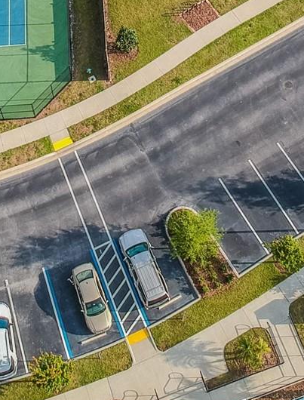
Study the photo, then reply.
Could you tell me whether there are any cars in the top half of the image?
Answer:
No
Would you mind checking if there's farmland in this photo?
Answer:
No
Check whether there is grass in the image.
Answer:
Yes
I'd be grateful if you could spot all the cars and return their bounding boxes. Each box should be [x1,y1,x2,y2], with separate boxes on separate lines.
[0,302,19,380]
[121,231,167,306]
[72,263,113,336]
